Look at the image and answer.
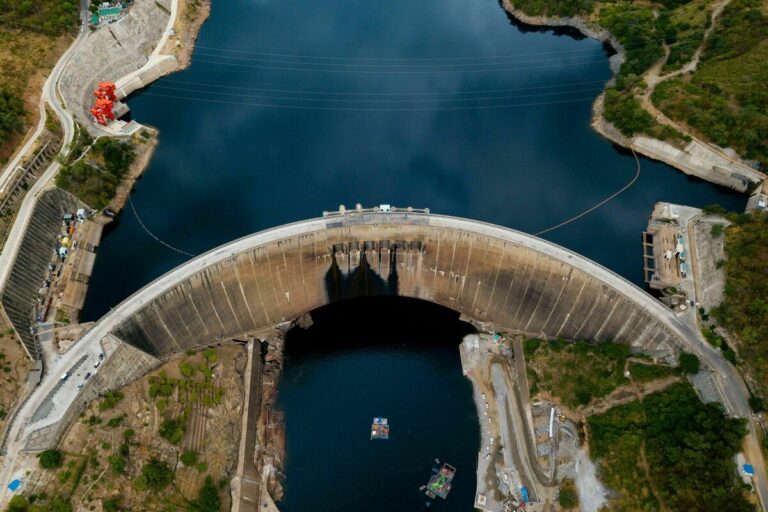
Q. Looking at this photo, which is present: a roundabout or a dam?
dam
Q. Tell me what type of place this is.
port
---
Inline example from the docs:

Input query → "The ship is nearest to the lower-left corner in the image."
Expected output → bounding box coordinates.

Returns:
[370,416,389,438]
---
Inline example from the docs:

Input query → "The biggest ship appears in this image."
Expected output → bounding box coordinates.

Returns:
[425,466,456,500]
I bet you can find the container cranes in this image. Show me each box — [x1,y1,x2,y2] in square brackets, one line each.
[87,96,114,122]
[91,78,116,100]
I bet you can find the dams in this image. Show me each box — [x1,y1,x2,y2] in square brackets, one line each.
[89,201,706,358]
